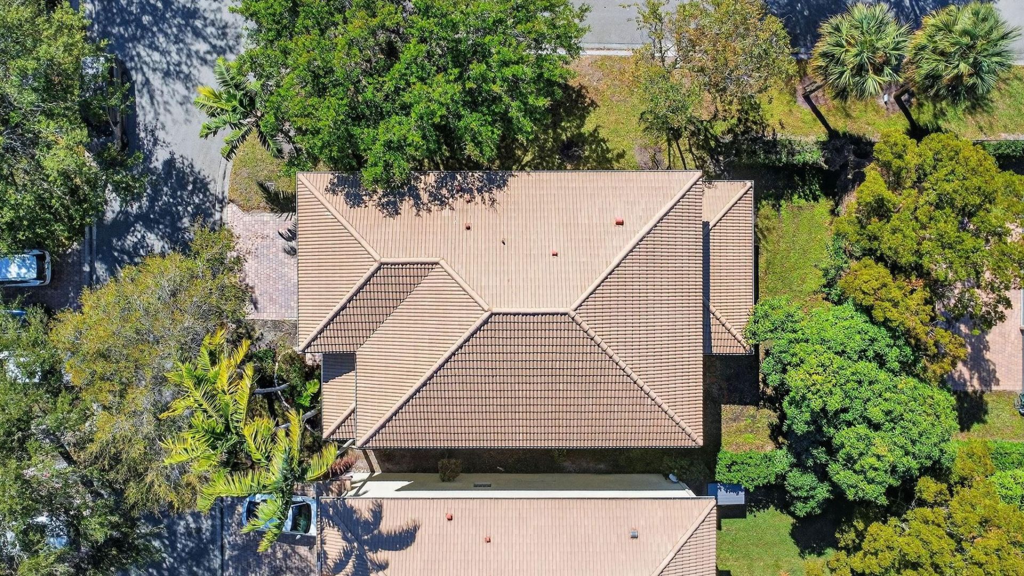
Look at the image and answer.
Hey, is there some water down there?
No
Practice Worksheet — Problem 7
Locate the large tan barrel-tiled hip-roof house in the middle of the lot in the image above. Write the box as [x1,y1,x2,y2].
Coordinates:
[293,169,755,450]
